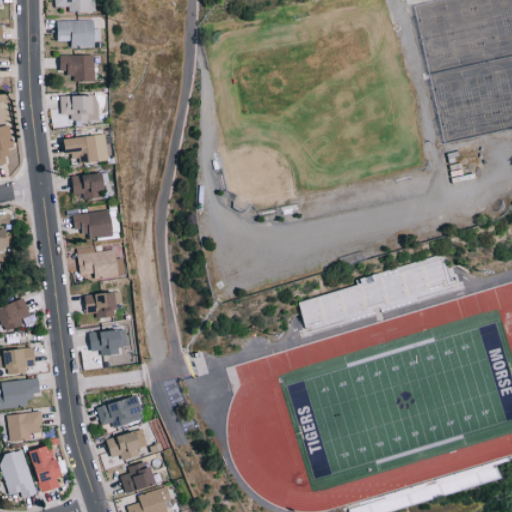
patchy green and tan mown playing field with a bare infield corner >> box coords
[203,0,422,209]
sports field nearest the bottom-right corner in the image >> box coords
[280,311,512,488]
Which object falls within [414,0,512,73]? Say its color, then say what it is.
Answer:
gray sports court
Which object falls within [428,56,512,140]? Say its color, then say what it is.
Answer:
gray sports court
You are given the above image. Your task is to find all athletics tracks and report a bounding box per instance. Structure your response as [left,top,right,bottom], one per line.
[227,280,512,511]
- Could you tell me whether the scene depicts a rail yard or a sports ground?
sports ground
